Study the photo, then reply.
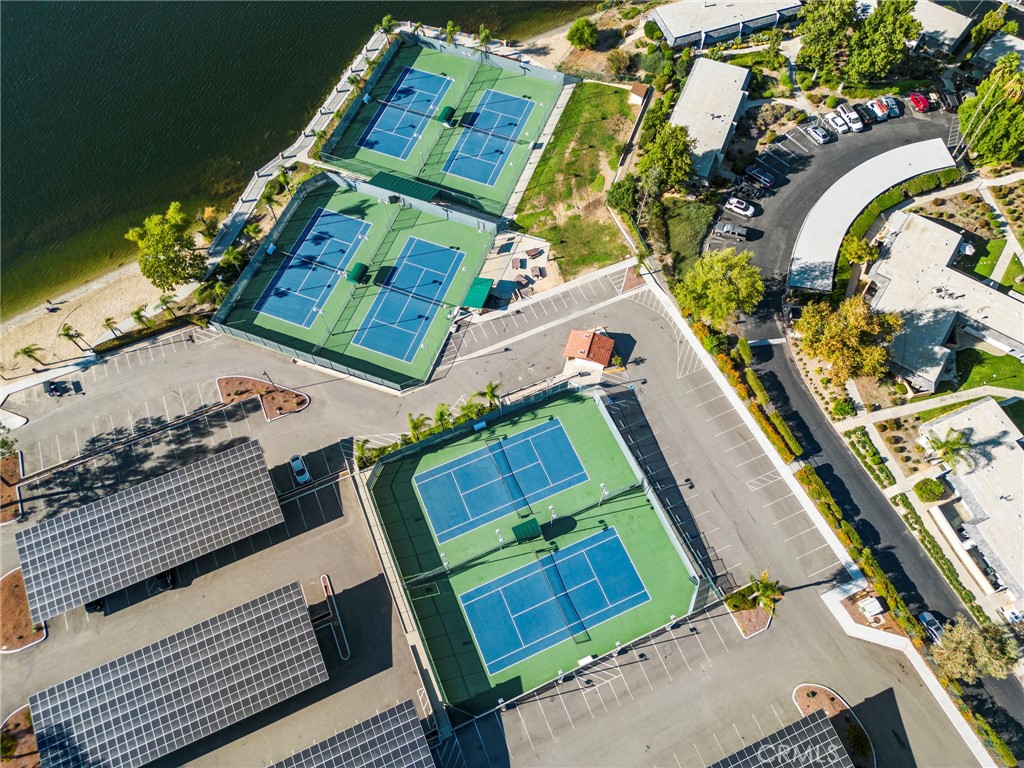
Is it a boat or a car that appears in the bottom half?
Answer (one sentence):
The one visible in the bottom half is a car.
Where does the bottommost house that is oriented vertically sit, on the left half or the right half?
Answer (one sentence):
The bottommost house that is oriented vertically is on the right side of the image.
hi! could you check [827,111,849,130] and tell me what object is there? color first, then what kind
white car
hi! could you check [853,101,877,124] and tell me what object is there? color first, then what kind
black truck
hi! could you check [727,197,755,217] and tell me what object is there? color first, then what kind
white car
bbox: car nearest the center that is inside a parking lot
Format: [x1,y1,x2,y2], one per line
[288,455,310,486]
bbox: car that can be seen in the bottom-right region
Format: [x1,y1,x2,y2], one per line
[920,609,950,641]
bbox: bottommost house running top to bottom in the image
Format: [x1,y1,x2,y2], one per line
[913,395,1024,619]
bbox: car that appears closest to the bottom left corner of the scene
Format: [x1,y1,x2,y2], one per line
[82,599,106,623]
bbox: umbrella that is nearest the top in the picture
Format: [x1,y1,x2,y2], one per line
[957,242,975,258]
